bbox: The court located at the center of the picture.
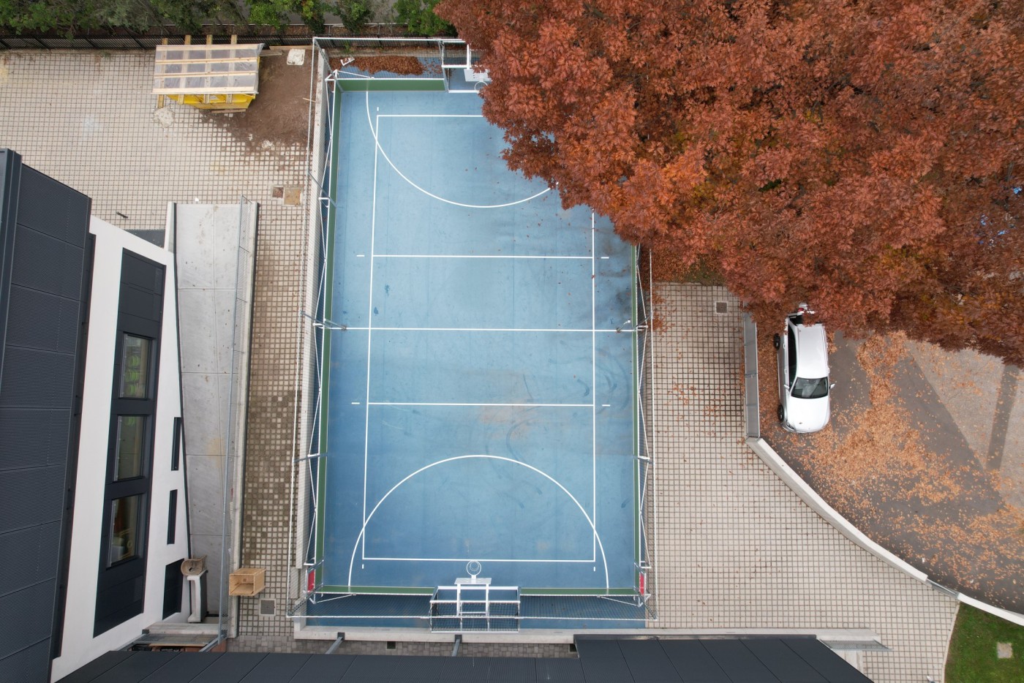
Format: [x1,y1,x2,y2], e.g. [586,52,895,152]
[307,56,646,628]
